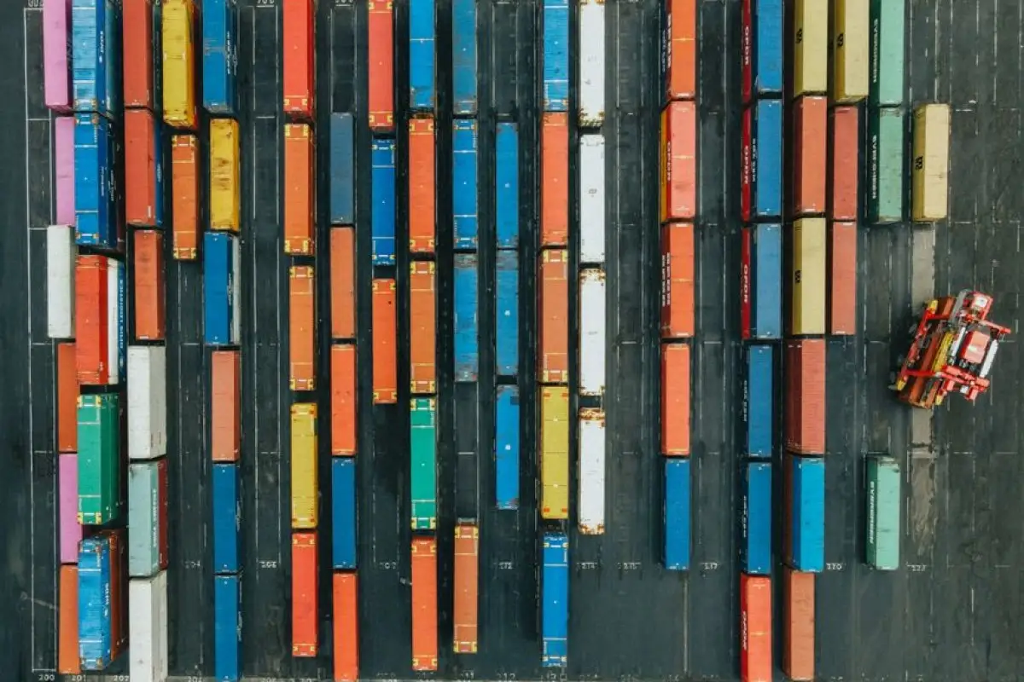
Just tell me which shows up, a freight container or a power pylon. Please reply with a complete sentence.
The image shows a freight container.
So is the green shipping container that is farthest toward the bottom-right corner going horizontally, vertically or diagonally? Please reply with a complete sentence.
From this overhead view, the green shipping container that is farthest toward the bottom-right corner appears to run vertically.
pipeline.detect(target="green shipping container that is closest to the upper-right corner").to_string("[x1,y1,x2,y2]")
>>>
[870,0,904,110]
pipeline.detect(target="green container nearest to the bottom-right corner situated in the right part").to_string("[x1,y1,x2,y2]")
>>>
[867,457,900,571]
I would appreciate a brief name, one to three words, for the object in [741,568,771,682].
shipping container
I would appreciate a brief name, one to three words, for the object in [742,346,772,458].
shipping container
